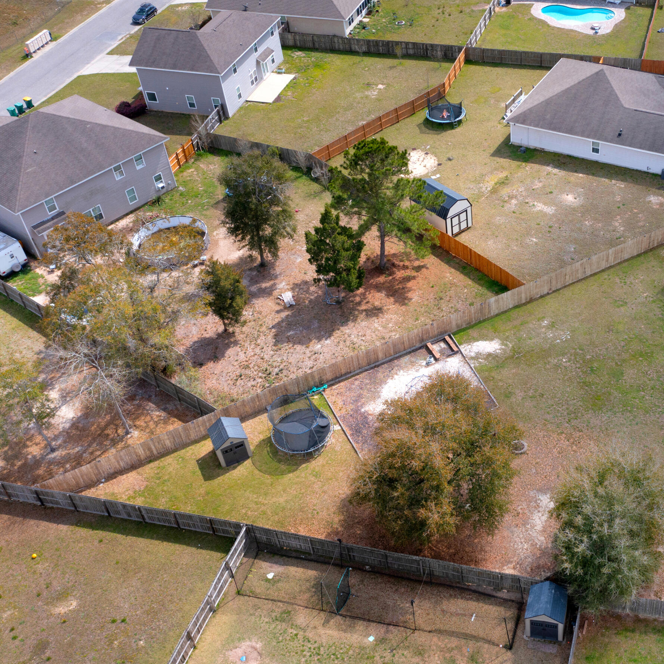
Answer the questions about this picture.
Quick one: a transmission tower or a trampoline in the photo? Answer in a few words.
trampoline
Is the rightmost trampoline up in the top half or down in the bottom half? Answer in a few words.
top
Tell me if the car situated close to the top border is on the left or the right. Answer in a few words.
left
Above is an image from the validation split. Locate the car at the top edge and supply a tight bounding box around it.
[131,3,158,23]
